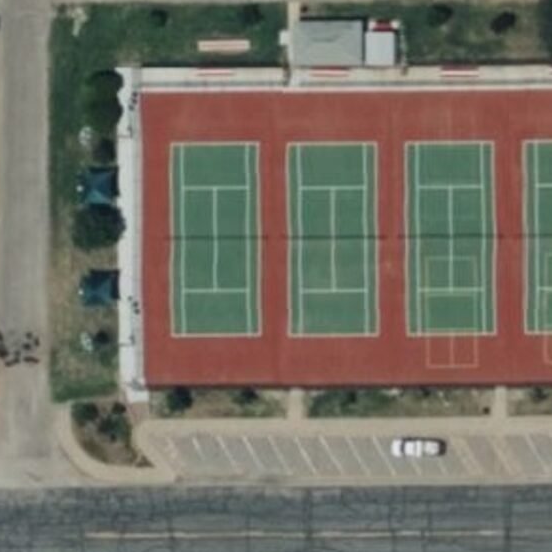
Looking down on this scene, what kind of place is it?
sports ground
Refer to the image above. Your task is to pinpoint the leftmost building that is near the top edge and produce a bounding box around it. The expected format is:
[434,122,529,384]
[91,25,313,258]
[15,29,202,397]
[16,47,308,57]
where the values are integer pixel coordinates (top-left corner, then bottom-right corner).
[292,20,366,66]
